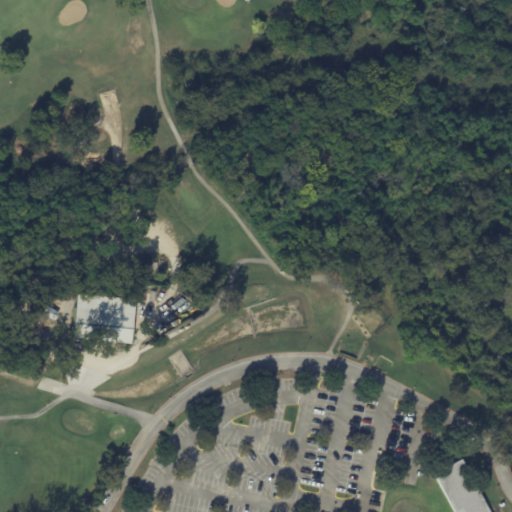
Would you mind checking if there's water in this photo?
No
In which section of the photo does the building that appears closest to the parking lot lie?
bottom right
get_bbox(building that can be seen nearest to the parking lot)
[432,456,492,512]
